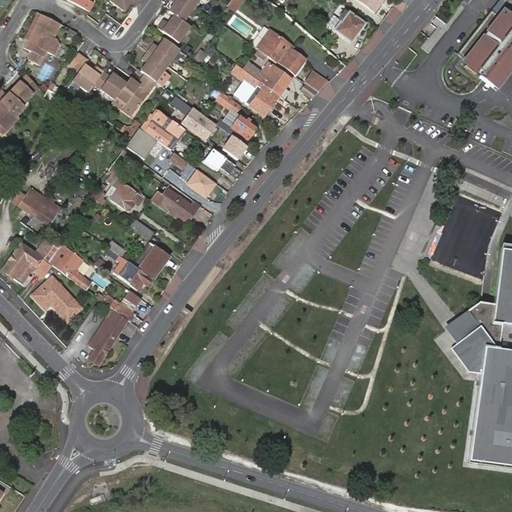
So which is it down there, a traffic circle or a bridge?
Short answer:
traffic circle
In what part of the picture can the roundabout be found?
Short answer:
bottom left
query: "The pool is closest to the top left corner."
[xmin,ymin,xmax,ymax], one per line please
[37,62,56,82]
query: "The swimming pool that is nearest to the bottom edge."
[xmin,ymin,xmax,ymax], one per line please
[90,273,110,291]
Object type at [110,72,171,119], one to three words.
house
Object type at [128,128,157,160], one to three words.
building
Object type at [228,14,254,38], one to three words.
swimming pool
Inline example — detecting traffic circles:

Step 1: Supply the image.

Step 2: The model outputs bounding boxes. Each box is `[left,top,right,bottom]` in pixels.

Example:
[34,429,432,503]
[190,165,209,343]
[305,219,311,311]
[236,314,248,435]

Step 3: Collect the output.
[66,382,142,459]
